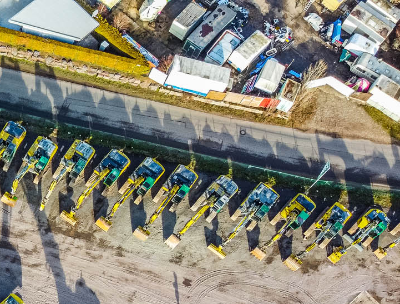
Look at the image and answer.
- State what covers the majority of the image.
paved ground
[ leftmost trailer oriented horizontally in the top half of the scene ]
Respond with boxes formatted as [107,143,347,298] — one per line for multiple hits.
[168,55,231,93]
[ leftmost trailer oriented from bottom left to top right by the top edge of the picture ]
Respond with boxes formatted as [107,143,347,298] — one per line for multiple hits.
[169,2,207,41]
